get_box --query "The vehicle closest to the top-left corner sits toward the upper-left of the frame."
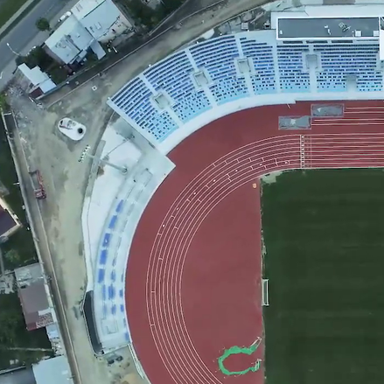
[55,7,73,24]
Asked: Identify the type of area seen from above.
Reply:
sports ground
